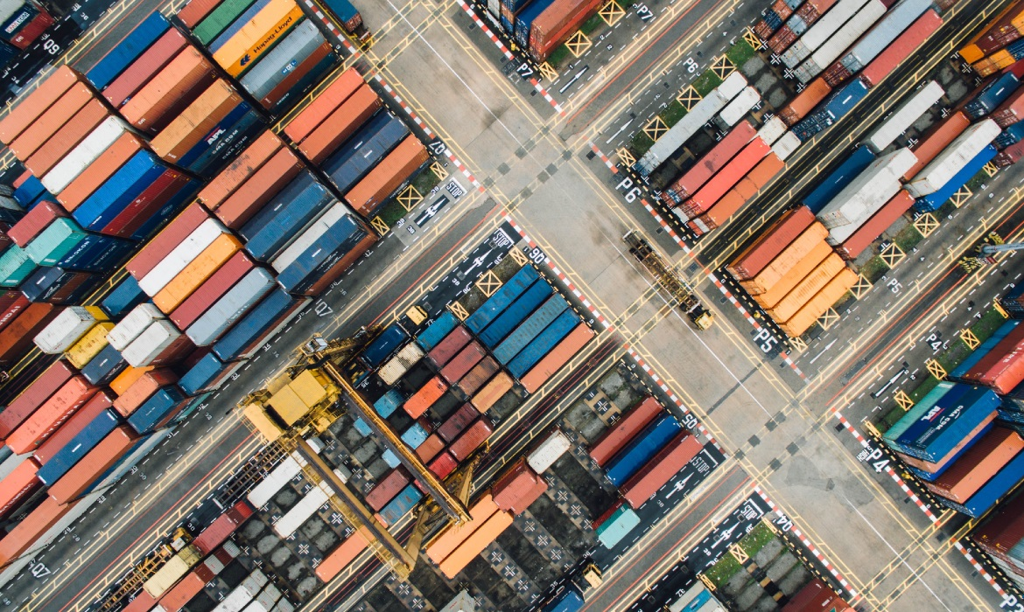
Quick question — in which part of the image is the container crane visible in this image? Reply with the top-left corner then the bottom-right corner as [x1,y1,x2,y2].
[240,321,487,585]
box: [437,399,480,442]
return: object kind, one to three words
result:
shipping container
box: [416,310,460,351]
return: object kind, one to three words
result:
shipping container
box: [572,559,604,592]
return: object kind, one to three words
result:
truck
